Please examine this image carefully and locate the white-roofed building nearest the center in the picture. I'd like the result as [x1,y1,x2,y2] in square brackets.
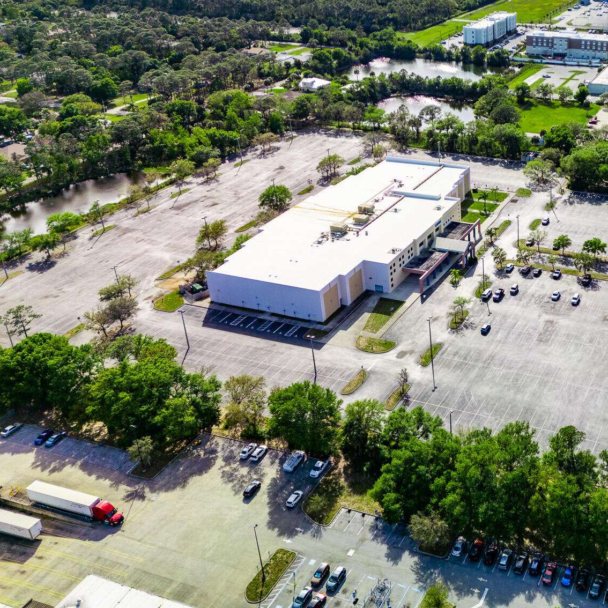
[209,153,479,321]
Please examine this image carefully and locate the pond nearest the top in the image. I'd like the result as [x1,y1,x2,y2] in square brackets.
[342,57,525,84]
